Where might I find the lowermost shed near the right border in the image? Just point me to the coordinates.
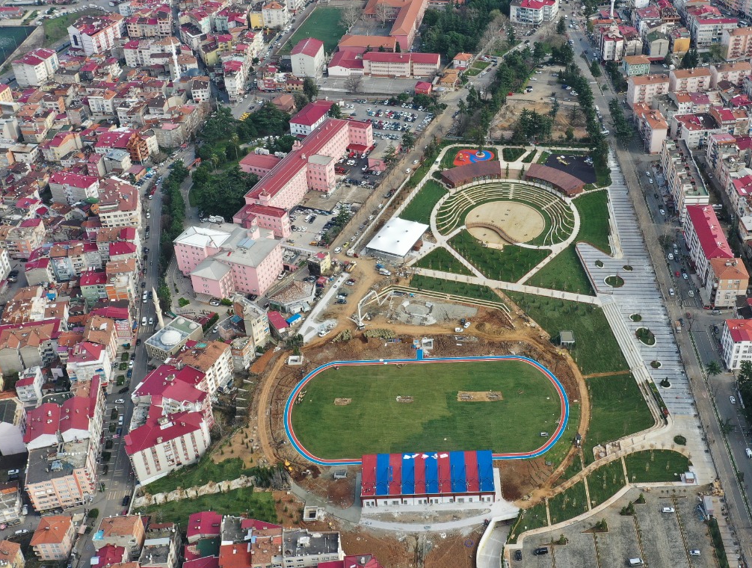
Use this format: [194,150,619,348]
[702,494,716,520]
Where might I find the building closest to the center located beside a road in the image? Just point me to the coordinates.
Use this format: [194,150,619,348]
[307,248,332,276]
